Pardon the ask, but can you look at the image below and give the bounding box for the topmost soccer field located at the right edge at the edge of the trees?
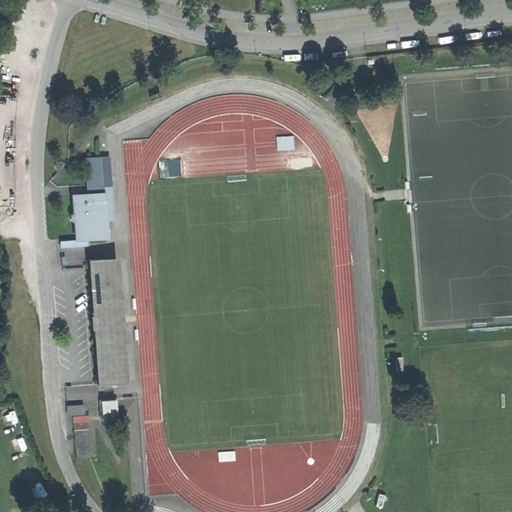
[402,67,512,330]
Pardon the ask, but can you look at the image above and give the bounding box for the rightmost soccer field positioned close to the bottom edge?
[419,338,512,512]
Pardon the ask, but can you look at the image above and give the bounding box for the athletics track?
[123,95,362,512]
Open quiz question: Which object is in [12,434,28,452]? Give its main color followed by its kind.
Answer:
white camper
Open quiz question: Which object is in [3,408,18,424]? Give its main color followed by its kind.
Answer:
white camper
